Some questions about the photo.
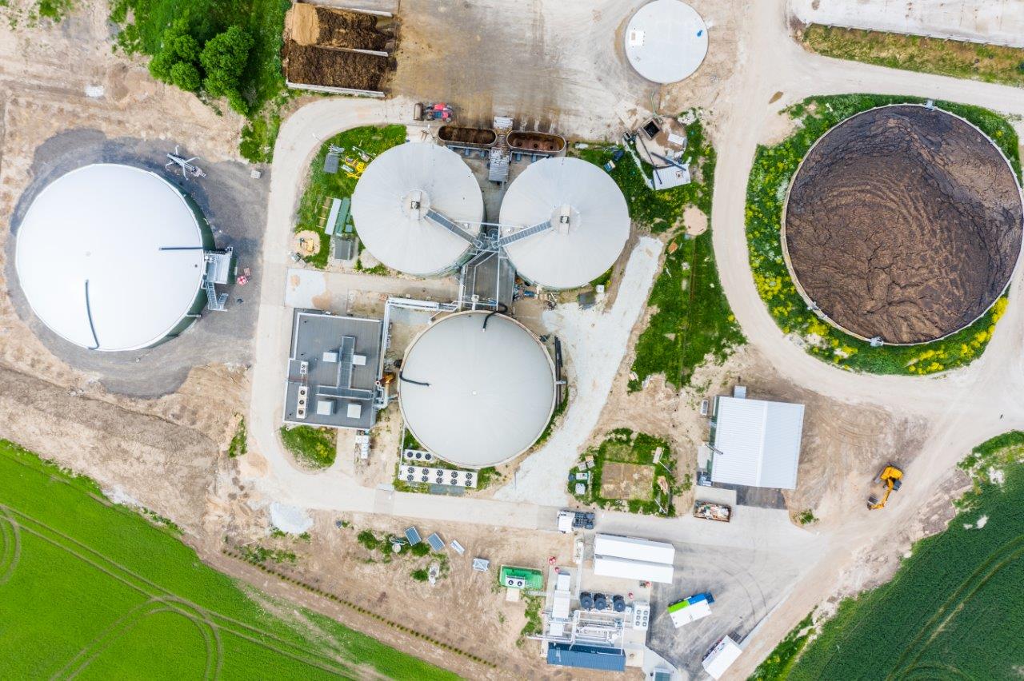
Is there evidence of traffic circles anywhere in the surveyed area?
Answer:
No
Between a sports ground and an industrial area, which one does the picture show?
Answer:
industrial area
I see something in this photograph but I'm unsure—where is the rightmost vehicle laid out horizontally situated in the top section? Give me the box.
[412,103,456,123]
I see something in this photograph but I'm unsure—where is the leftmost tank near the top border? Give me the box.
[623,0,708,85]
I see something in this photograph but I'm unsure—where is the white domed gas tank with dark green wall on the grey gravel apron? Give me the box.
[15,162,214,352]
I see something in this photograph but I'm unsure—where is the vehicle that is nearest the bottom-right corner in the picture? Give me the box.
[867,463,907,509]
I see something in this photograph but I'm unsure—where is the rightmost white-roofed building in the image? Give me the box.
[704,386,806,489]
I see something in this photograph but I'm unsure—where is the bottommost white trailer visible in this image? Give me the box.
[700,627,743,681]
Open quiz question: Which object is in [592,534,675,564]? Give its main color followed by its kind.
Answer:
white trailer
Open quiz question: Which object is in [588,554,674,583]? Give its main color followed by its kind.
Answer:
white trailer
